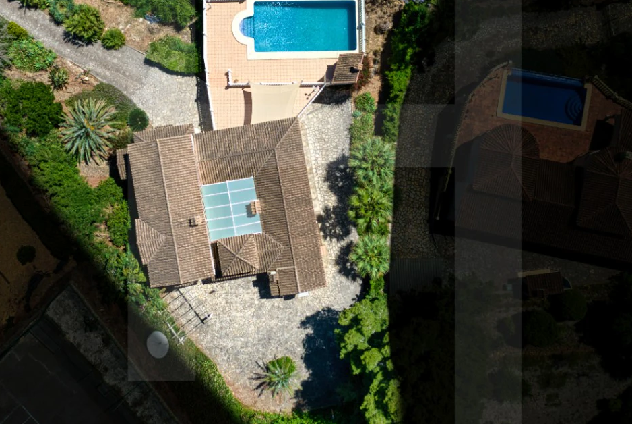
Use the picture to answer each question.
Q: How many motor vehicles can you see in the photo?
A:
zero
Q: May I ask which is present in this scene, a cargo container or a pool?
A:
pool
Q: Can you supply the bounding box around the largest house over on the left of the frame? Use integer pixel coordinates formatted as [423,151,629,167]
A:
[115,117,327,298]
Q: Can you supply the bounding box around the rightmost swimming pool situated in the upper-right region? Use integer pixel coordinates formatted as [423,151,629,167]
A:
[498,69,594,131]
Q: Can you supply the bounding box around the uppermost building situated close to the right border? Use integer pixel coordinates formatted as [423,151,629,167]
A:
[453,109,632,271]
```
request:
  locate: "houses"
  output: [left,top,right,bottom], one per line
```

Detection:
[453,109,632,271]
[115,117,327,298]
